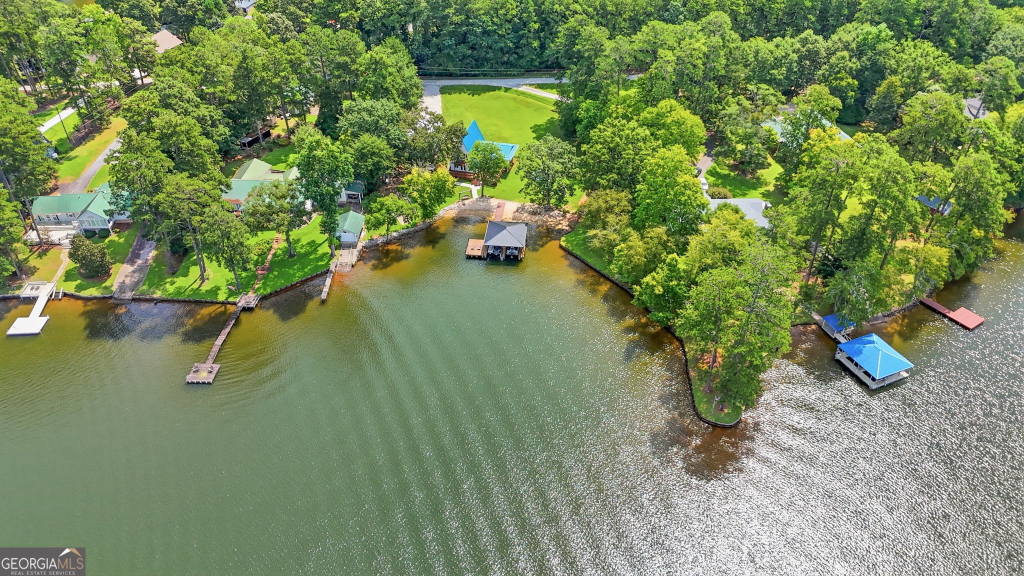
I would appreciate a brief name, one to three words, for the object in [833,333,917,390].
building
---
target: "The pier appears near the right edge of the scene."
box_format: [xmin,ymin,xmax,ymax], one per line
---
[920,298,984,332]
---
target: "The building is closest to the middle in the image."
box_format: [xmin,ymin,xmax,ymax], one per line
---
[465,221,527,262]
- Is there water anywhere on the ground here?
Yes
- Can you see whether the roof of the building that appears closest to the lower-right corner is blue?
Yes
